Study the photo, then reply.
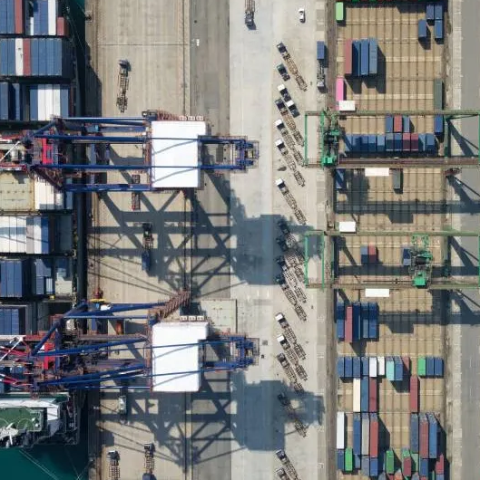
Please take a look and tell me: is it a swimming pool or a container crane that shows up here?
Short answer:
container crane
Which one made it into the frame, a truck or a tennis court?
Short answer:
truck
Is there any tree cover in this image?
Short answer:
No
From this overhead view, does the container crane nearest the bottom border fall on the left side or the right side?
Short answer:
left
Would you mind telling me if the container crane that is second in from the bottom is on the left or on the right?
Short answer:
right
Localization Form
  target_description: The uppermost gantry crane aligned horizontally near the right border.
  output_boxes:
[302,99,480,176]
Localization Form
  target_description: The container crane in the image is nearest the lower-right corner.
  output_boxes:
[302,219,480,296]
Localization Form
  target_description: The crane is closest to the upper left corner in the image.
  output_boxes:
[0,99,269,204]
